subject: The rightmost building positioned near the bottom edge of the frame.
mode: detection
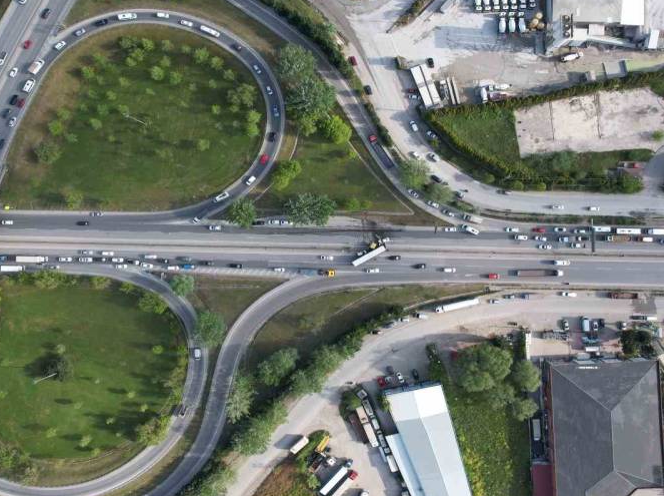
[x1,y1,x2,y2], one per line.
[541,355,664,496]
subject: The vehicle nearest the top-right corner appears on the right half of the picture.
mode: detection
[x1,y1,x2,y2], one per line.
[560,50,586,64]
